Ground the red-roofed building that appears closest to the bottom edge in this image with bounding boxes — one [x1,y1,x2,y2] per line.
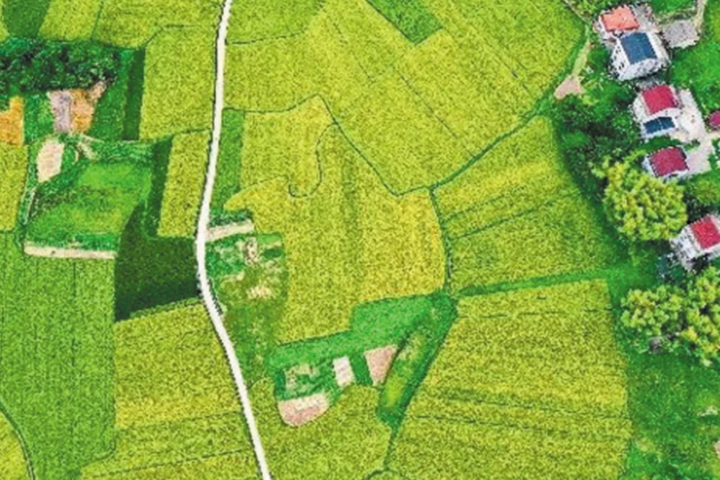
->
[684,216,720,262]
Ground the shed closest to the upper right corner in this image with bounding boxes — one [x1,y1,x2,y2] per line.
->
[666,18,702,44]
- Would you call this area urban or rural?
rural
